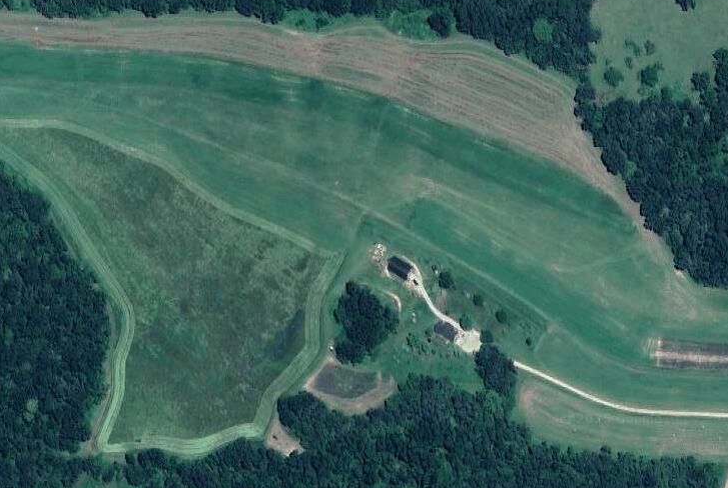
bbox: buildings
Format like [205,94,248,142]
[434,320,457,341]
[388,257,411,279]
